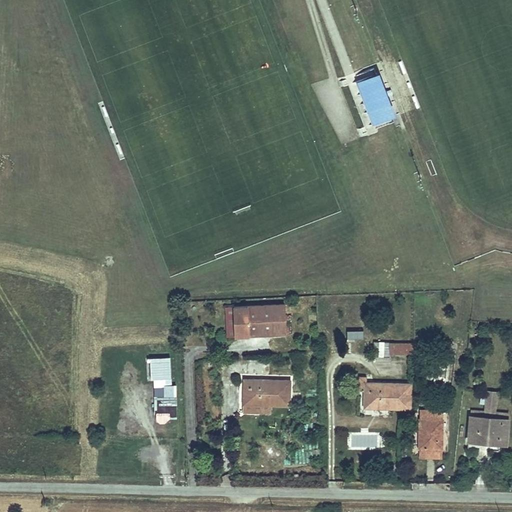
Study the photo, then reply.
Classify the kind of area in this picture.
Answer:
sports ground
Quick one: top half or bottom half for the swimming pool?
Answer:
bottom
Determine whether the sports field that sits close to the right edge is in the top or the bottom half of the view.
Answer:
top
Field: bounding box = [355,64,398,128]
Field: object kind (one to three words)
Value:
building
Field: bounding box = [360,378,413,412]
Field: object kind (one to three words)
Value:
house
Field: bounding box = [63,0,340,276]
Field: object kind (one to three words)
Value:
sports field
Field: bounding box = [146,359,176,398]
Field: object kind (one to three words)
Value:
shed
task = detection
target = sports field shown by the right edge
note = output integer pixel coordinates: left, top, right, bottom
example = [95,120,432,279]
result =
[378,0,512,230]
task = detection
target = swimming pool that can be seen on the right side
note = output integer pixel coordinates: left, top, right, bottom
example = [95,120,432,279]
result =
[348,428,382,450]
